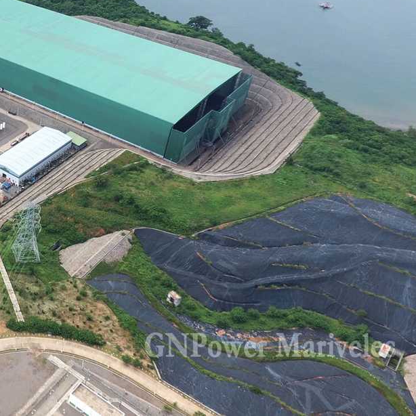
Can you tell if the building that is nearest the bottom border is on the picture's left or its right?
left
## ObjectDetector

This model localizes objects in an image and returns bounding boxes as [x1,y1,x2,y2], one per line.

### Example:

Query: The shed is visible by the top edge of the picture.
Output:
[0,0,254,163]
